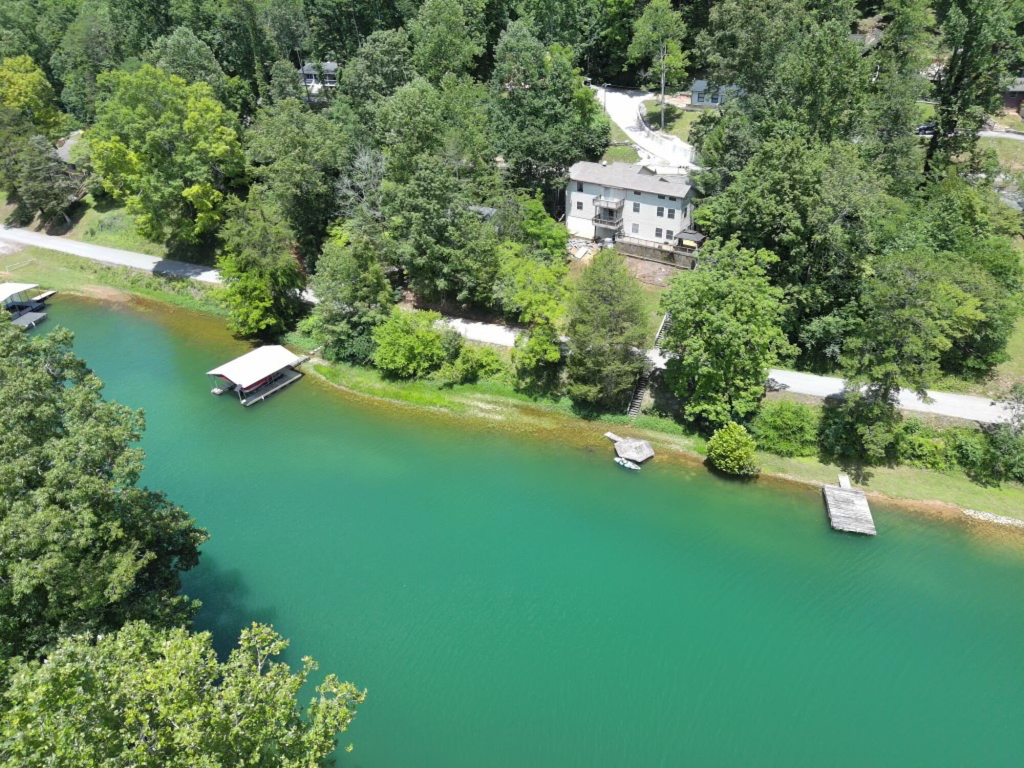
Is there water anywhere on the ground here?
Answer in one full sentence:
Yes, there's water in this view.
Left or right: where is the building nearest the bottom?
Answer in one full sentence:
It is on the left.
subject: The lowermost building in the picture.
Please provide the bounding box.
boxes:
[206,343,306,411]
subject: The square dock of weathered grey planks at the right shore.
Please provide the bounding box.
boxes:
[823,486,876,537]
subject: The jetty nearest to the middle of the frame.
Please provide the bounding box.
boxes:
[614,438,654,465]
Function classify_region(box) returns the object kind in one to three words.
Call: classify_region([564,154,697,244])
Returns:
house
